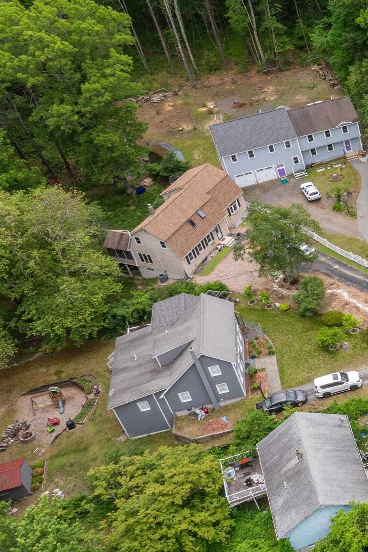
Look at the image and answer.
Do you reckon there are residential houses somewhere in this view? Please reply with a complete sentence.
Yes, a residential house can be made out from above.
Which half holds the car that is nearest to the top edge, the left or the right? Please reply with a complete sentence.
The car that is nearest to the top edge appears in the right half of the scene.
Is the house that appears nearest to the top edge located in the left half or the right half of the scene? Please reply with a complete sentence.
You can find the house that appears nearest to the top edge on the right side of the picture.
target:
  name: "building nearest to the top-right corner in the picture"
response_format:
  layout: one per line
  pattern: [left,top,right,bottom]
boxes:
[209,92,364,187]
